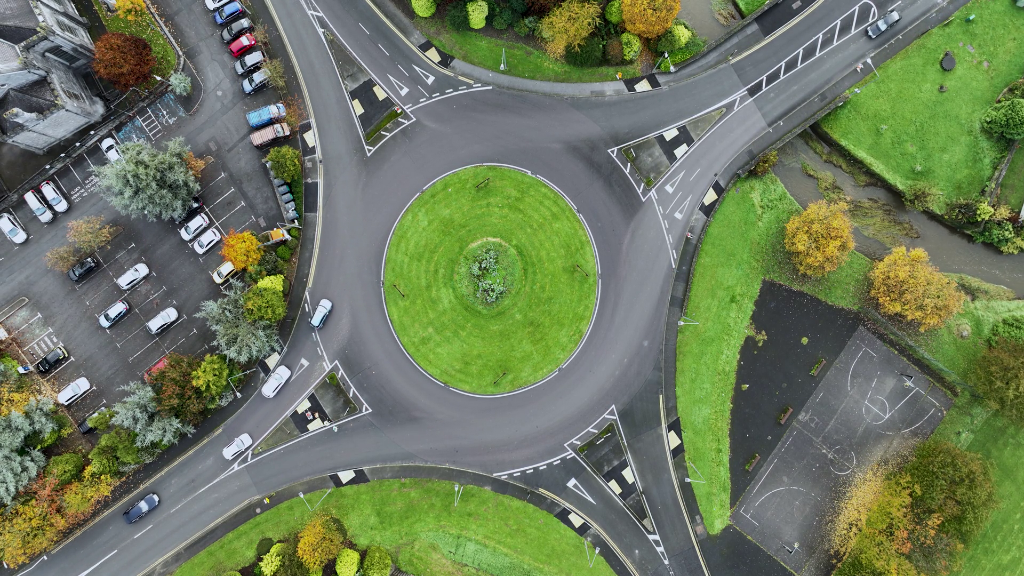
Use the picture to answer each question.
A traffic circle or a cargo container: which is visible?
traffic circle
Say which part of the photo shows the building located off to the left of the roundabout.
top left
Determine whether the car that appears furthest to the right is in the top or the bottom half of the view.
top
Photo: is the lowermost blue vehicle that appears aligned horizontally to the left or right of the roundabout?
on its left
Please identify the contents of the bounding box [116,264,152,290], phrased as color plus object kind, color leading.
white car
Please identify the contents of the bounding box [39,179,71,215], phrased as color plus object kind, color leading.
white car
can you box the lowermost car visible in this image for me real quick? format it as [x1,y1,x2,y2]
[121,493,161,525]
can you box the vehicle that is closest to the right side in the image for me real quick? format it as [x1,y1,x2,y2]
[864,9,904,40]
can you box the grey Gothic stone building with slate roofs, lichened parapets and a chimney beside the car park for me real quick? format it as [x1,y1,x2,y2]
[0,0,107,153]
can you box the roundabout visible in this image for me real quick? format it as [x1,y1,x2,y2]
[305,88,768,474]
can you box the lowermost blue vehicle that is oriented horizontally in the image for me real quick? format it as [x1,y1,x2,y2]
[245,103,289,128]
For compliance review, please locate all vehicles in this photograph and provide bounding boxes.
[39,179,71,215]
[181,214,212,240]
[233,50,269,75]
[54,377,93,406]
[193,228,225,255]
[864,9,904,40]
[99,300,132,327]
[245,103,289,128]
[260,365,292,399]
[243,69,273,94]
[73,409,107,436]
[211,261,240,284]
[37,346,71,373]
[67,256,101,282]
[172,196,207,224]
[310,297,333,330]
[116,264,152,290]
[23,189,55,224]
[0,211,30,245]
[145,307,181,334]
[206,0,238,12]
[249,125,293,150]
[102,135,125,161]
[228,34,259,56]
[220,433,254,461]
[121,493,161,525]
